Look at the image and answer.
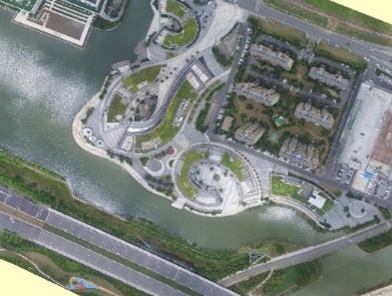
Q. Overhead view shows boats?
No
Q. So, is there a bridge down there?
Yes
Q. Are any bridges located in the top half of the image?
No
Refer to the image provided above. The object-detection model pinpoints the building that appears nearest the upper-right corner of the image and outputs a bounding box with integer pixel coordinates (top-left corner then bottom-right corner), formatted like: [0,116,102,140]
[310,67,350,91]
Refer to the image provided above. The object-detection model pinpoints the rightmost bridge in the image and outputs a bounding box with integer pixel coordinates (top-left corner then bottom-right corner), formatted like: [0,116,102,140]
[296,230,365,262]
